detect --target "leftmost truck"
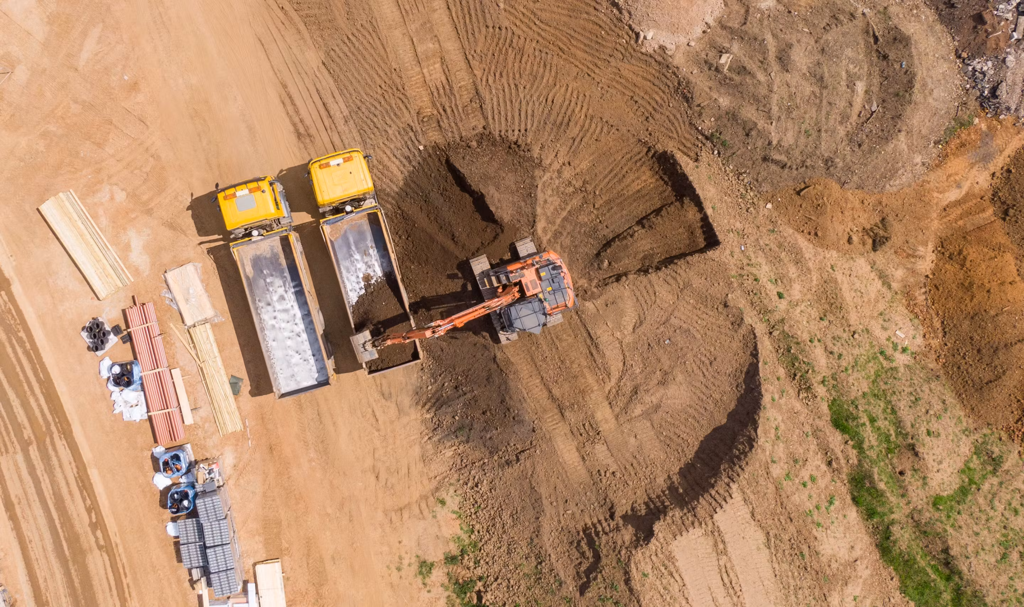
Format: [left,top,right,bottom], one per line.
[212,176,340,400]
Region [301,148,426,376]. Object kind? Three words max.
truck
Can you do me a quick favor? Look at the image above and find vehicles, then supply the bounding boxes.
[301,148,426,376]
[348,237,574,367]
[212,176,340,400]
